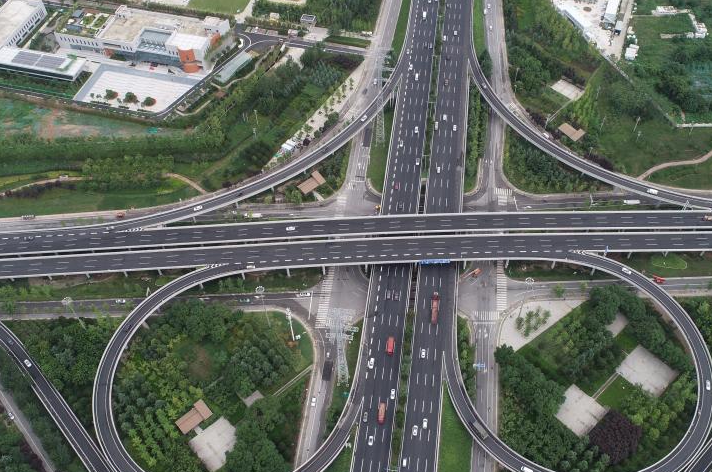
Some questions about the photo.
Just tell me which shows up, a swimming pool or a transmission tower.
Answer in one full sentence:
I can see a transmission tower in this picture.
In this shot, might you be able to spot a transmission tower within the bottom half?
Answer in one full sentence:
Yes, looking within the bottom half, one can make out a transmission tower.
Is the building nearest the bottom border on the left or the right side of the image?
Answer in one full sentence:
The building nearest the bottom border sits on the left side.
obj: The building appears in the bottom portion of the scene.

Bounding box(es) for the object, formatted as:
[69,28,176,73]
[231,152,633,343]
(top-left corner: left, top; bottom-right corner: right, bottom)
[176,400,212,437]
